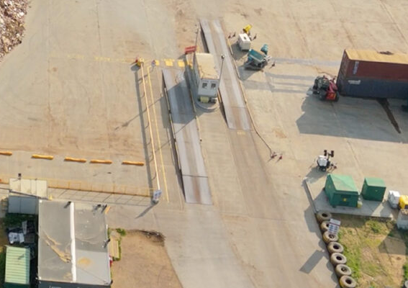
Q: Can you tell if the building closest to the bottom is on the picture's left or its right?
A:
left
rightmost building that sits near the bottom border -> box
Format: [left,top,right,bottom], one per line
[37,197,118,288]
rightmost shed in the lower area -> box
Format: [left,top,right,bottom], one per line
[360,177,388,202]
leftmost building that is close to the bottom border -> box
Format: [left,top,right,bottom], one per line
[4,246,30,288]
